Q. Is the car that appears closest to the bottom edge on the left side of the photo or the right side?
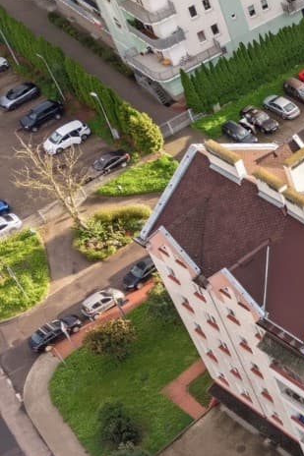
left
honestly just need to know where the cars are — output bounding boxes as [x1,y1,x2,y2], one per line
[236,104,279,135]
[114,257,158,289]
[17,96,67,131]
[25,317,89,355]
[0,211,29,236]
[75,287,129,319]
[44,117,93,153]
[280,76,304,106]
[0,51,12,69]
[216,115,257,144]
[85,144,137,180]
[259,92,302,122]
[0,77,45,111]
